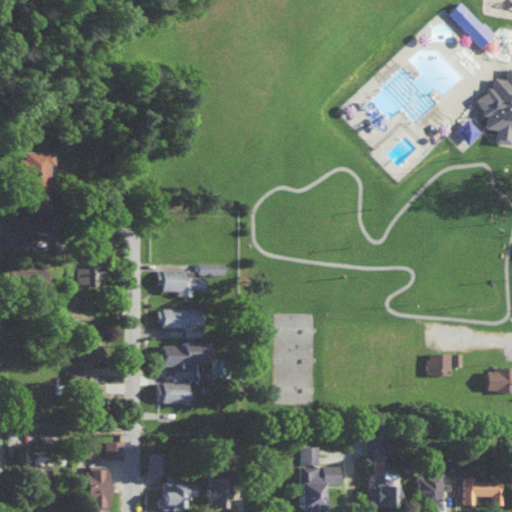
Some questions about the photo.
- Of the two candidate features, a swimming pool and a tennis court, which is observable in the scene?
swimming pool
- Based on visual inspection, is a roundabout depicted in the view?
No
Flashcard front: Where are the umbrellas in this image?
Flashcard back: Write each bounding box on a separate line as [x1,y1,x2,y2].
[440,125,451,137]
[461,35,472,47]
[486,41,498,53]
[419,35,430,46]
[345,106,357,117]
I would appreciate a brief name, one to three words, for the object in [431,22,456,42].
swimming pool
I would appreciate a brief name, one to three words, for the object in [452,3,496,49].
building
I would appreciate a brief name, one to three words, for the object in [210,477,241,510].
house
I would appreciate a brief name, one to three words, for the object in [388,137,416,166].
swimming pool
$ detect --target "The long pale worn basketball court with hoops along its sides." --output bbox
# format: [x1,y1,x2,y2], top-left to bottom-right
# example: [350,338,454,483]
[272,313,314,404]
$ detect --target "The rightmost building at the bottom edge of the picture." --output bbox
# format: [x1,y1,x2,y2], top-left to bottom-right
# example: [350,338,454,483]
[462,478,505,507]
